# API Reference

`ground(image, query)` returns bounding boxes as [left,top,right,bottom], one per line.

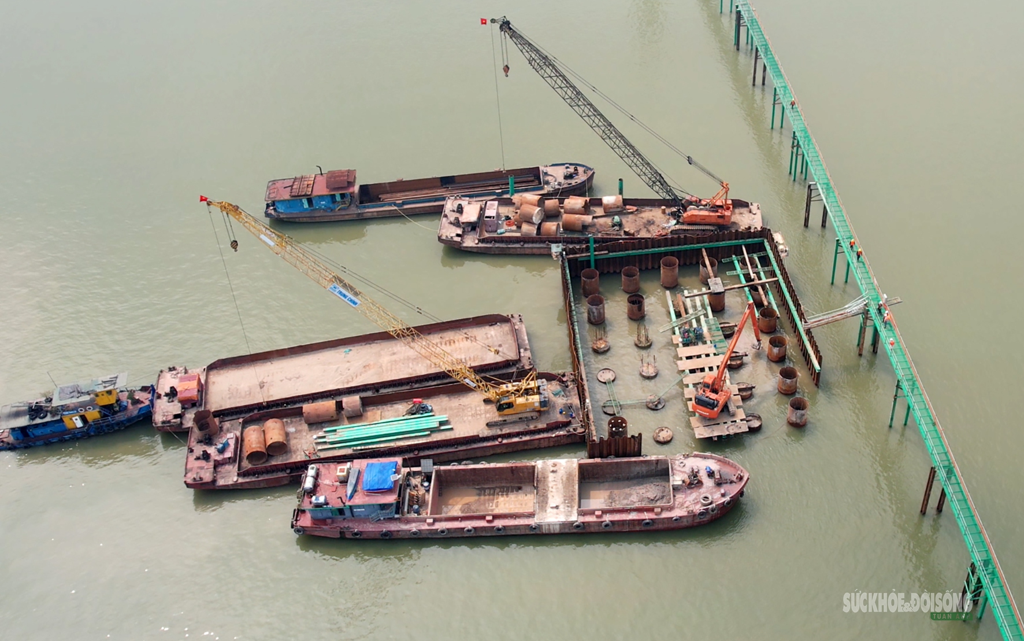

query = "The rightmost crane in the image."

[491,21,730,236]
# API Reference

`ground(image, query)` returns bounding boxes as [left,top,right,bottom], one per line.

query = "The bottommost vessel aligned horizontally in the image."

[289,450,751,543]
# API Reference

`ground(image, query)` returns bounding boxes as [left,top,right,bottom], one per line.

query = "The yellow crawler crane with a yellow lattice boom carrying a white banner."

[209,199,549,429]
